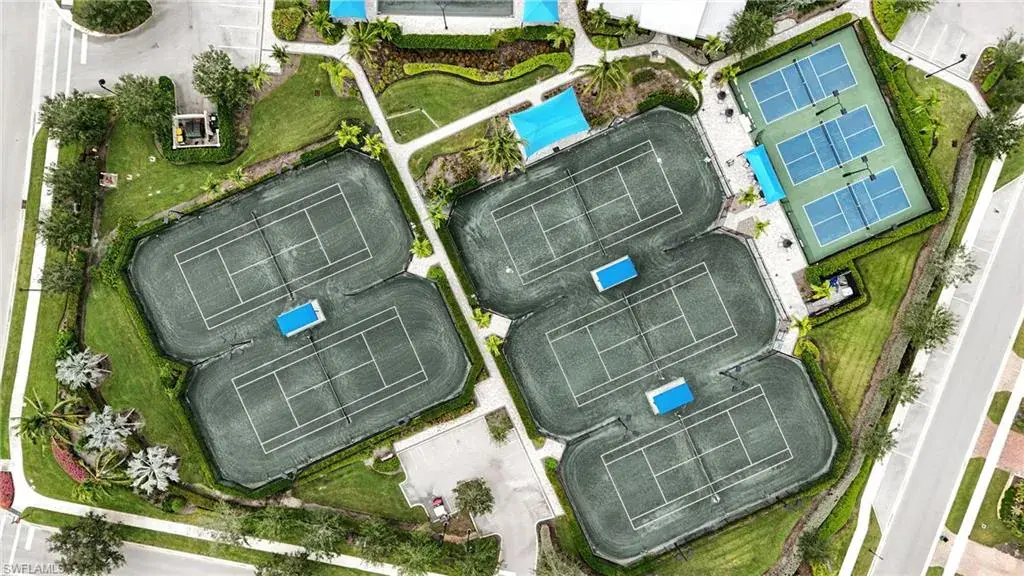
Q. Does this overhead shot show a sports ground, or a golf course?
sports ground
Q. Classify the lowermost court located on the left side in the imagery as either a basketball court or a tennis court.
tennis court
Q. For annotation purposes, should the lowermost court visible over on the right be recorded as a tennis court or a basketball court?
tennis court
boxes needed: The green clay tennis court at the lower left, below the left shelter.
[195,271,469,487]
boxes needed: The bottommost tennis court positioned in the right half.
[560,352,833,562]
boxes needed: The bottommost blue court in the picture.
[803,166,912,246]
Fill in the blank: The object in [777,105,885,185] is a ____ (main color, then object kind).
blue sports court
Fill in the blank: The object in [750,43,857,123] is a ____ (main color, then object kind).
blue sports court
